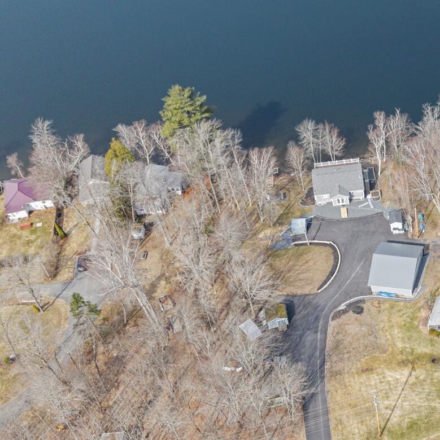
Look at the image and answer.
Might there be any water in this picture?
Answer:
Yes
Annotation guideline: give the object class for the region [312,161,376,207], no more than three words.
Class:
house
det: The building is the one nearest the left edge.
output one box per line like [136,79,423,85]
[4,175,53,226]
